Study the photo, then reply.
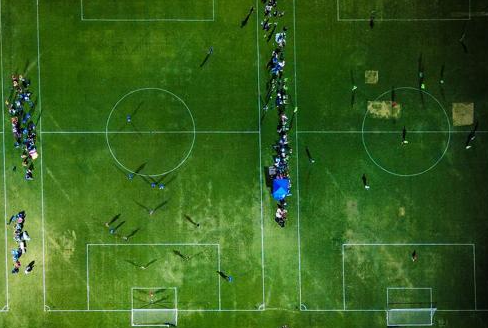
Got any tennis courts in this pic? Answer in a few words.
No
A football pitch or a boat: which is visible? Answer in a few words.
football pitch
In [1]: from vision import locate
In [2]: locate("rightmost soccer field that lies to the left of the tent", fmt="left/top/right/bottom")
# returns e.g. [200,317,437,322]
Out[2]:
[38,0,264,310]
